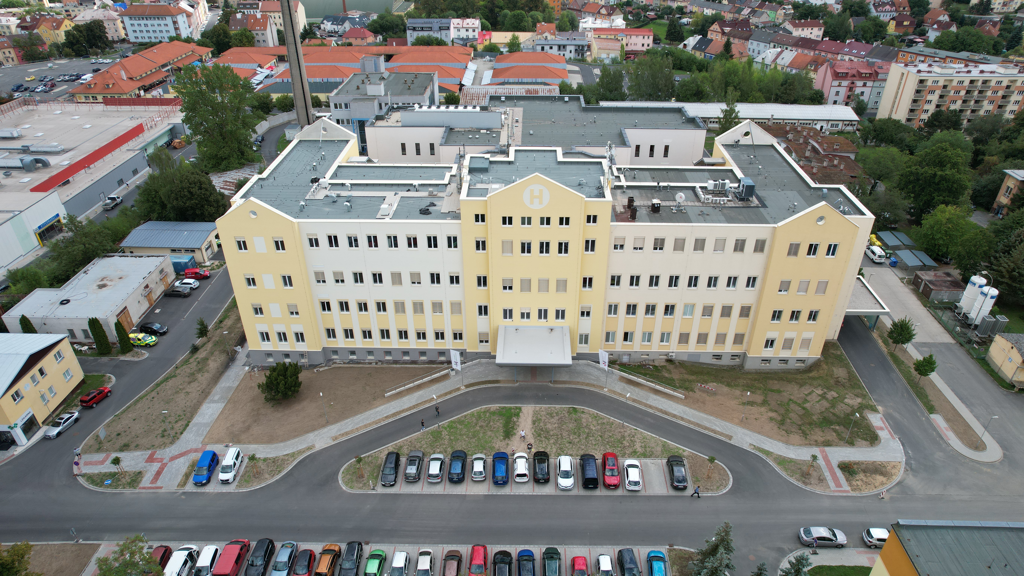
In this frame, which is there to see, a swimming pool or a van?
van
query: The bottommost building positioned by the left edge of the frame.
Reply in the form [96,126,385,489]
[0,333,86,467]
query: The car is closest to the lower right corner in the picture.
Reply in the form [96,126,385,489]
[861,526,890,547]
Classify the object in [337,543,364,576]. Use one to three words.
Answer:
car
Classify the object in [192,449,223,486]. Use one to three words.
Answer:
van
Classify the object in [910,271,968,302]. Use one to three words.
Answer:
building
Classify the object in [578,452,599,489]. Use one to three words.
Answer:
vehicle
